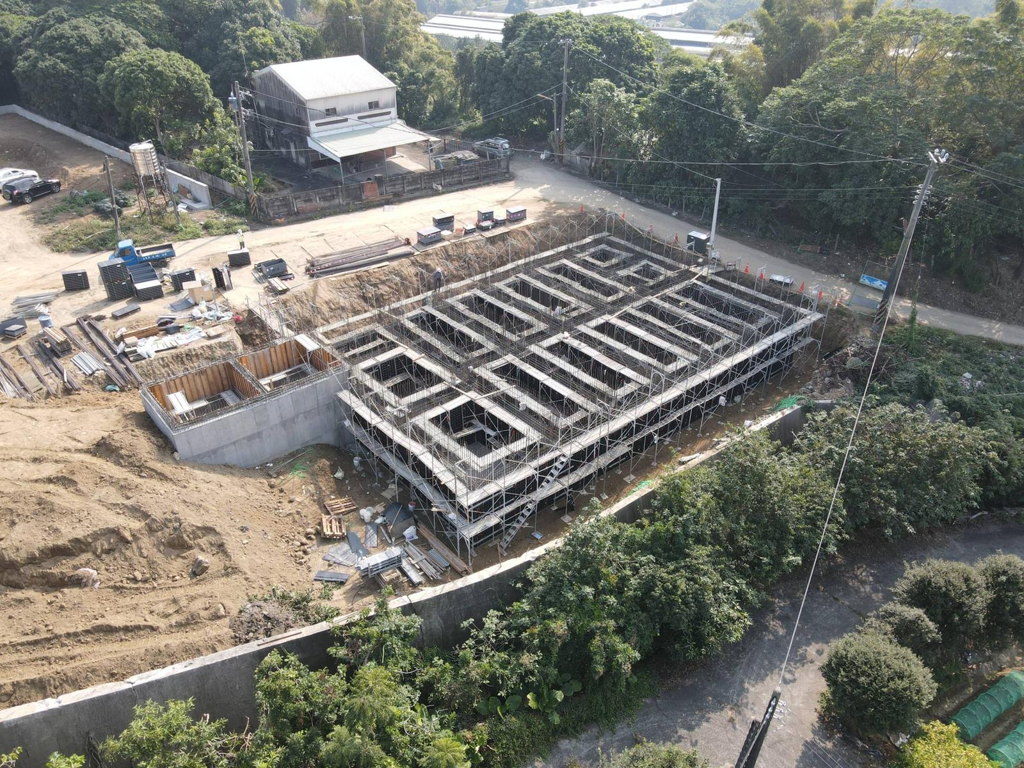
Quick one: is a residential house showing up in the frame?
Yes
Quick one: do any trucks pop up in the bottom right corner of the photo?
No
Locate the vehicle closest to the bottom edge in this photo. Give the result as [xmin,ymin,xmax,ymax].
[111,232,179,269]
